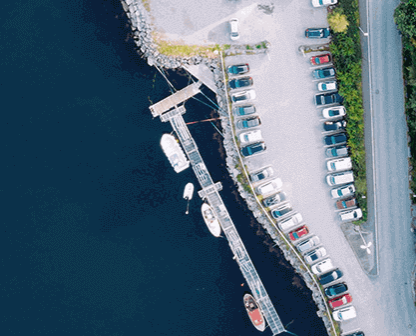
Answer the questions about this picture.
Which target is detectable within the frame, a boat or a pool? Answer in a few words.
boat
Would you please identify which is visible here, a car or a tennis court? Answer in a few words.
car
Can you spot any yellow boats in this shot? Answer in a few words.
No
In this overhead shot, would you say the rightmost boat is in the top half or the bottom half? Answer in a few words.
bottom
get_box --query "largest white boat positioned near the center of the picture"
[164,135,190,176]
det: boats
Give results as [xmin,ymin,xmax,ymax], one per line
[241,292,264,334]
[184,184,194,205]
[164,135,190,176]
[200,202,220,237]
